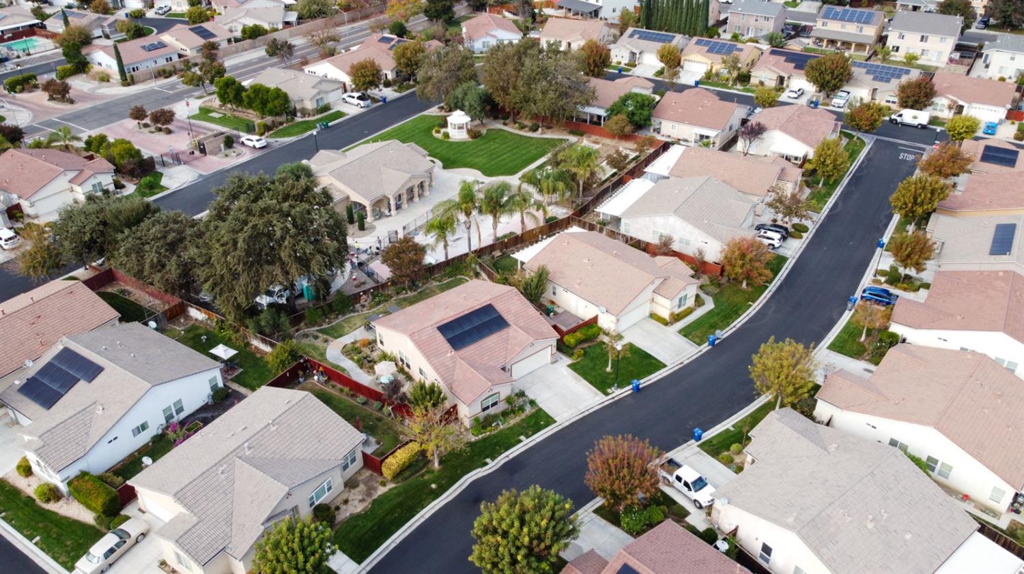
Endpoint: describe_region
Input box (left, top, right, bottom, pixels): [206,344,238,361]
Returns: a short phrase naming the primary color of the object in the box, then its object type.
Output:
white umbrella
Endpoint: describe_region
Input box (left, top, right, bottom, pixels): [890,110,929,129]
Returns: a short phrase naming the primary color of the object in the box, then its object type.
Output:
white vehicle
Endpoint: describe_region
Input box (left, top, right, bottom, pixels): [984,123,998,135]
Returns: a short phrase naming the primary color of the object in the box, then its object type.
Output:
blue vehicle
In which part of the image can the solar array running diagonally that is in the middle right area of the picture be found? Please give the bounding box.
[983,223,1022,255]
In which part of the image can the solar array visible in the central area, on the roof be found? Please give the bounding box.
[437,304,509,350]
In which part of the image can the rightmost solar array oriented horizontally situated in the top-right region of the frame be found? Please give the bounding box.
[979,145,1021,165]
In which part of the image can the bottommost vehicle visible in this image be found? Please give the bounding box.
[68,517,149,574]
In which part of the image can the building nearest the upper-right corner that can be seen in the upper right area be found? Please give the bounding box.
[971,32,1024,82]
